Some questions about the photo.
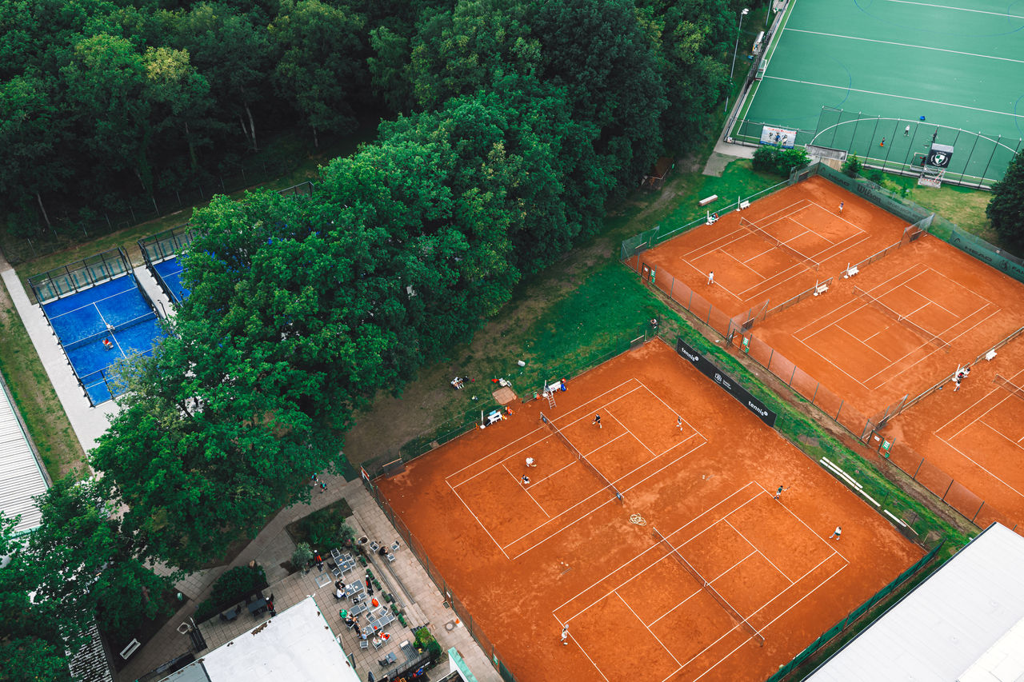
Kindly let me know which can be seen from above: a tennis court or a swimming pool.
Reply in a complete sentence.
I can see a tennis court in this picture.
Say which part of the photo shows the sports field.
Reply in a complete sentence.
The sports field sits in the top right section of the image.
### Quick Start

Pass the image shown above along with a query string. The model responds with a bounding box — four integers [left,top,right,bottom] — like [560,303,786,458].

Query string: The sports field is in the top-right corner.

[728,0,1024,188]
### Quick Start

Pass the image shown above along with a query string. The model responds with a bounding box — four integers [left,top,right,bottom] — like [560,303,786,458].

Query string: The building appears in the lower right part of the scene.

[801,522,1024,682]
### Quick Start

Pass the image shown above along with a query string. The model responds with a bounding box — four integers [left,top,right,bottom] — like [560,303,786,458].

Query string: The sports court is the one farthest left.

[29,246,179,408]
